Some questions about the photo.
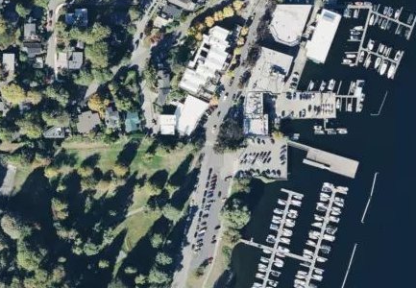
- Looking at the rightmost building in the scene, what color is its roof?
white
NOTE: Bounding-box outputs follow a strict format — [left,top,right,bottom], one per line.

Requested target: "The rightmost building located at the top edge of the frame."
[306,9,341,66]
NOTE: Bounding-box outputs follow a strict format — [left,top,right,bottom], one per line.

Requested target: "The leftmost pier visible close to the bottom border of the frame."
[239,188,304,288]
